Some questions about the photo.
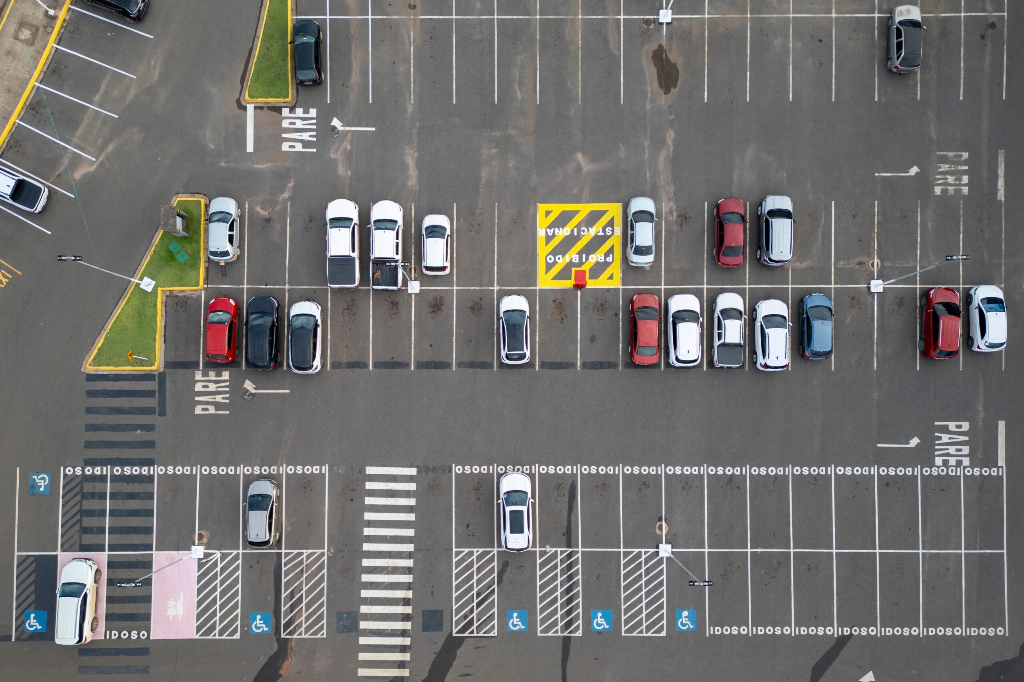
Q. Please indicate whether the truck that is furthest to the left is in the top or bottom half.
top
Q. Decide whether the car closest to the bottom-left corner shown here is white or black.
white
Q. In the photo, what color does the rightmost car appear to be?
white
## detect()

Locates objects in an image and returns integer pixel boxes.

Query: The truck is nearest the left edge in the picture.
[0,164,51,215]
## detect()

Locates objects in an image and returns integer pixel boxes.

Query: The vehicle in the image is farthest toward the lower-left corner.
[53,558,104,646]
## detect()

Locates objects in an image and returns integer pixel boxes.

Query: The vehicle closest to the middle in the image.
[497,295,532,364]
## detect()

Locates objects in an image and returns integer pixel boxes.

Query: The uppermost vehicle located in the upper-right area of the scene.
[886,5,928,73]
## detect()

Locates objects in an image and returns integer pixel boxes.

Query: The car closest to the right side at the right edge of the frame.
[965,285,1010,352]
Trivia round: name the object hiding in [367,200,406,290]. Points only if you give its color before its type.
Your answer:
white truck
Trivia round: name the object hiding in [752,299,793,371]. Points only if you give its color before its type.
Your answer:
white car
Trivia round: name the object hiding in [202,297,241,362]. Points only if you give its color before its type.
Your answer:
red car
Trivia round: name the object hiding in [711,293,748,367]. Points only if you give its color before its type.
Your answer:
white truck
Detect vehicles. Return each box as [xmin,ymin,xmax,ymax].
[665,294,703,367]
[367,200,406,290]
[965,285,1010,352]
[205,196,244,263]
[756,195,797,267]
[497,295,532,364]
[0,164,51,215]
[628,293,663,365]
[242,479,281,548]
[624,196,660,267]
[202,297,241,362]
[323,199,363,290]
[286,301,325,374]
[419,214,453,275]
[711,293,748,367]
[918,287,964,359]
[752,299,793,371]
[497,472,535,552]
[243,296,283,370]
[886,5,928,73]
[76,0,147,24]
[798,293,838,360]
[289,19,326,87]
[712,197,749,268]
[53,558,104,646]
